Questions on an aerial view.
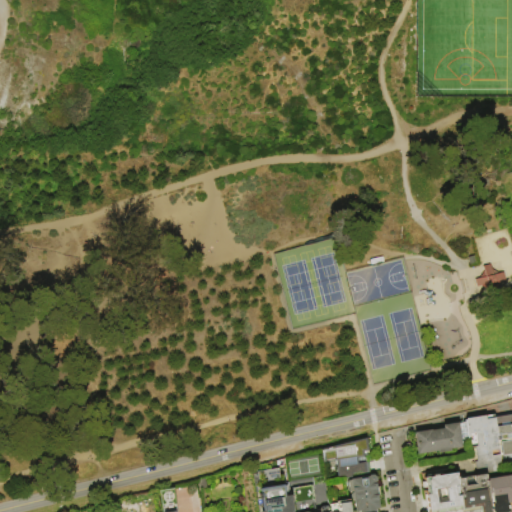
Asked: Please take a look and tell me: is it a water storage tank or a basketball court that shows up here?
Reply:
basketball court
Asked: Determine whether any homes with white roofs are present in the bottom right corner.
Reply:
Yes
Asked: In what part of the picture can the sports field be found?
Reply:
top right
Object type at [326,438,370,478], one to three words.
house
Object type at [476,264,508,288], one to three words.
building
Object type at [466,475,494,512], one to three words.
house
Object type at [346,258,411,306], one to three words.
basketball court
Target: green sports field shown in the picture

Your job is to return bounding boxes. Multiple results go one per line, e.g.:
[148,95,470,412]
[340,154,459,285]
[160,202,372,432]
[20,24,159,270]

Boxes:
[418,0,512,95]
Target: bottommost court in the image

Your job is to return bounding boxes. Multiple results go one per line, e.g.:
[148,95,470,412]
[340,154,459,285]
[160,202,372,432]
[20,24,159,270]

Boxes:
[288,456,322,478]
